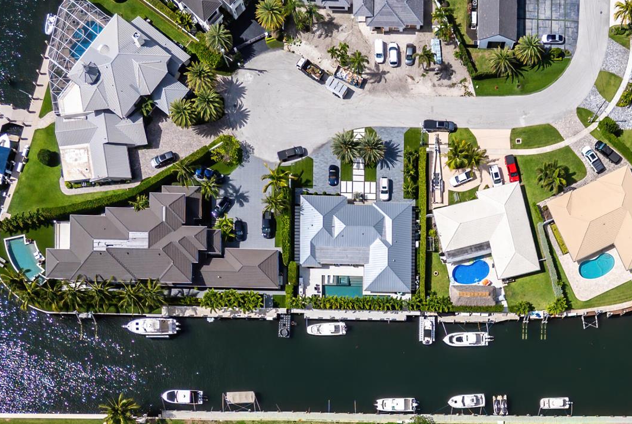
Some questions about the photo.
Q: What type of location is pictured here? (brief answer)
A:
residential area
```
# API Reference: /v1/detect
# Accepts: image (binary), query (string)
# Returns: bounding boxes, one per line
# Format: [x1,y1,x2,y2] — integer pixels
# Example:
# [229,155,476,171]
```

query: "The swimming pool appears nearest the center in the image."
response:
[321,274,365,299]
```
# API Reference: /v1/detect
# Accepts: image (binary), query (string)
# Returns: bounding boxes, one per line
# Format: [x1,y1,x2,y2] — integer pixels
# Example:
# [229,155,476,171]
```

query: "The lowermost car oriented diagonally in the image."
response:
[211,196,232,215]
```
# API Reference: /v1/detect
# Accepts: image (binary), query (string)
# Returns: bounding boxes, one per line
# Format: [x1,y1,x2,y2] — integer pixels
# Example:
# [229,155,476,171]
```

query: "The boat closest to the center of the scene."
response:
[306,322,348,335]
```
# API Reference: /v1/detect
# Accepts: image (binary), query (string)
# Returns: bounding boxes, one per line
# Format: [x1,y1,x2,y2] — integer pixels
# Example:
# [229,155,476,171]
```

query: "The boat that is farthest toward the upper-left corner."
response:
[44,8,57,34]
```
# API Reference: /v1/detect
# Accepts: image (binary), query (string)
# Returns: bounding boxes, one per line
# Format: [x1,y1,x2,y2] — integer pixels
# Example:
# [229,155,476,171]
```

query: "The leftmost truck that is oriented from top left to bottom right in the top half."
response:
[295,53,324,80]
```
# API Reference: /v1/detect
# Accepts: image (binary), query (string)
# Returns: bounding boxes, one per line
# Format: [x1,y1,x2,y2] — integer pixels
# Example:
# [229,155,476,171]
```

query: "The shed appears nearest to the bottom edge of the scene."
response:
[450,286,497,306]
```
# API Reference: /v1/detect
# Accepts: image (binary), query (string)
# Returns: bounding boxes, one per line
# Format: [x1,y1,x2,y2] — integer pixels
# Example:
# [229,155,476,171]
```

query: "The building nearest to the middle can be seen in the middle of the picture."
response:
[301,195,411,293]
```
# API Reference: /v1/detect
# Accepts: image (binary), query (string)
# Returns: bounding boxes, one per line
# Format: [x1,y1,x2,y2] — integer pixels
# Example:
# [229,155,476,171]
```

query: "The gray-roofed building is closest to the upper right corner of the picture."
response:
[476,0,518,46]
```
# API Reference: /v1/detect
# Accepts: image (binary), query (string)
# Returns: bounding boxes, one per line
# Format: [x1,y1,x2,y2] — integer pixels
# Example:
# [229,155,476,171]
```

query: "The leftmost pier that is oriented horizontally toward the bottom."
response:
[162,306,290,319]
